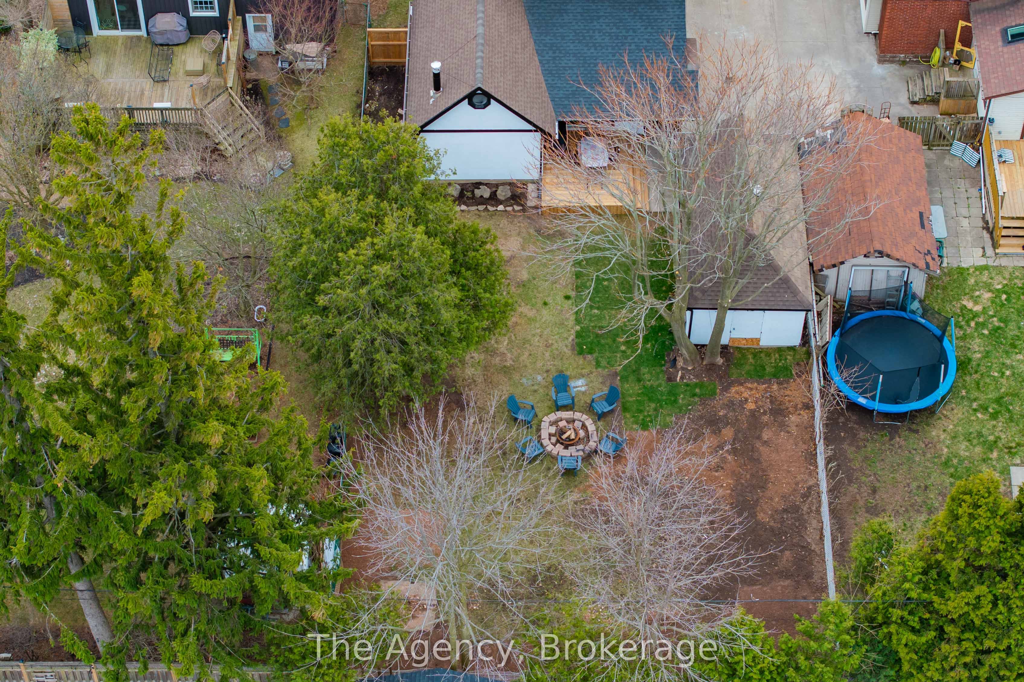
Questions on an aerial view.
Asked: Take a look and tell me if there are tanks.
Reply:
No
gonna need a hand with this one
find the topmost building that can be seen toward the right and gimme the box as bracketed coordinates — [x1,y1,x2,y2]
[860,0,994,65]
